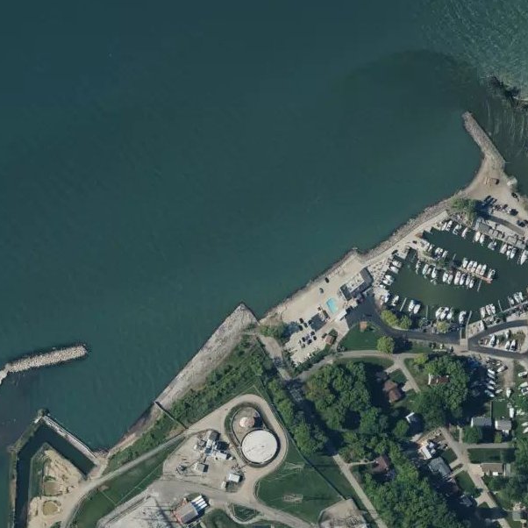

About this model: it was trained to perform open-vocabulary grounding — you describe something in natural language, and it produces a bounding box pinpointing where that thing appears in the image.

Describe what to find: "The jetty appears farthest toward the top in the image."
[463,111,504,167]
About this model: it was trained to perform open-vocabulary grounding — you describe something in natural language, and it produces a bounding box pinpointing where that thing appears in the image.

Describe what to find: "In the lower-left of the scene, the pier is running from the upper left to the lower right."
[41,415,101,462]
